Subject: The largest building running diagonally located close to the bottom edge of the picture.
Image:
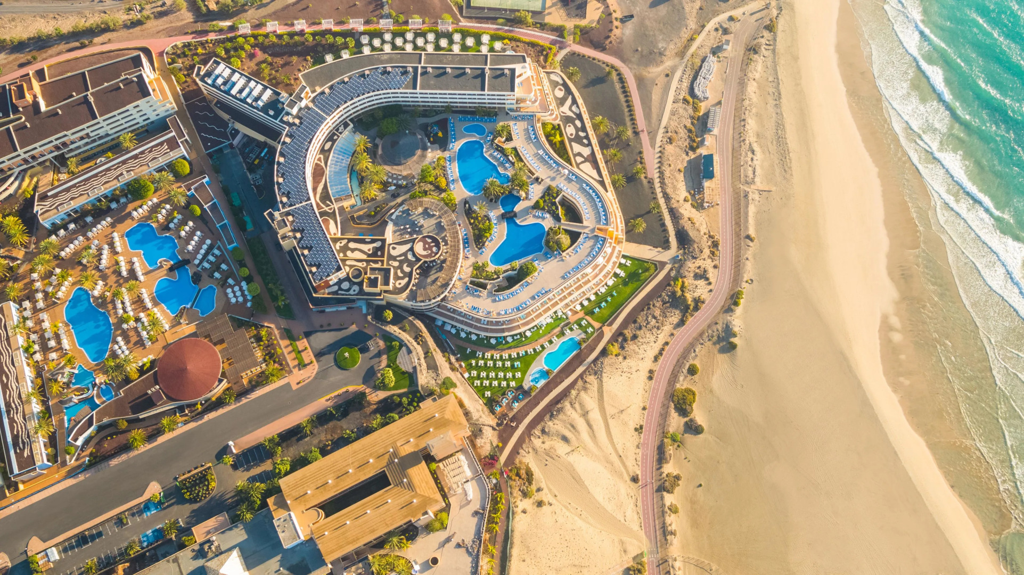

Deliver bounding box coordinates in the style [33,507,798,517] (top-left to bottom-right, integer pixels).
[267,392,469,563]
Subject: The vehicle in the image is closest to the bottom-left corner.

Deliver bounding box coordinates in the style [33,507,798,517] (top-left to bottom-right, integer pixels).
[46,548,59,561]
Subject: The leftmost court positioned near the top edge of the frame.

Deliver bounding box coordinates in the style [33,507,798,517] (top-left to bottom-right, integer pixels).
[463,0,546,21]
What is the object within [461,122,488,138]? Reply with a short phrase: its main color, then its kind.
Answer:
blue swimming pool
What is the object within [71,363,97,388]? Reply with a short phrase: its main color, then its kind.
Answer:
blue swimming pool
